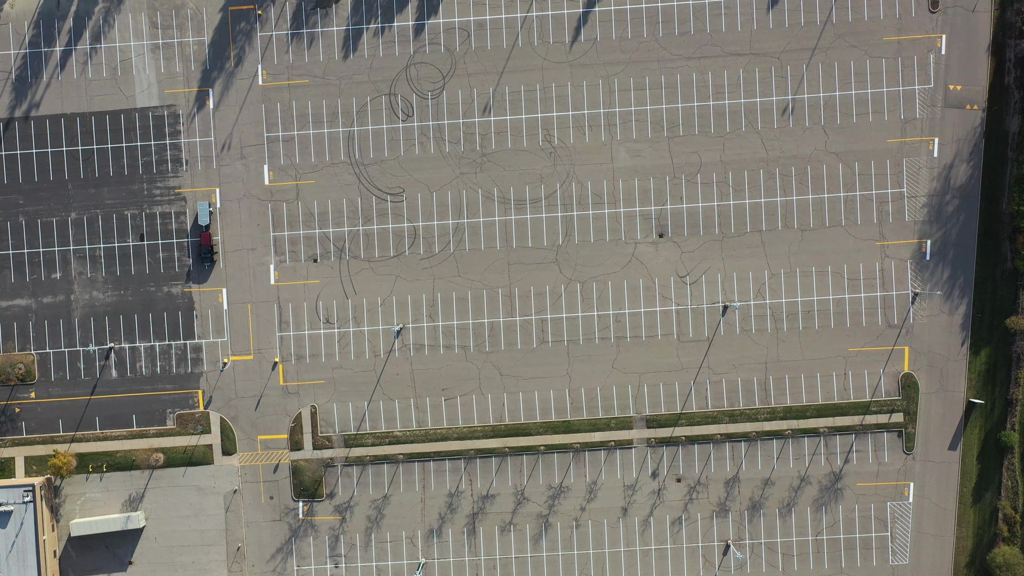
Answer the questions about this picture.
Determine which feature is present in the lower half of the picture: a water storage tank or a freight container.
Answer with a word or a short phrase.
freight container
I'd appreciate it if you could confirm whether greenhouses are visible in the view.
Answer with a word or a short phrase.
No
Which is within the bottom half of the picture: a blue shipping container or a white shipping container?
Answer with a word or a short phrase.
white shipping container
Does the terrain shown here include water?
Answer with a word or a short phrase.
No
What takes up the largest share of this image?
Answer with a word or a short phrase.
paved ground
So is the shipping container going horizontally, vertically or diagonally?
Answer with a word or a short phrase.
horizontally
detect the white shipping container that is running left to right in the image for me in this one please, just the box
[69,511,144,536]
